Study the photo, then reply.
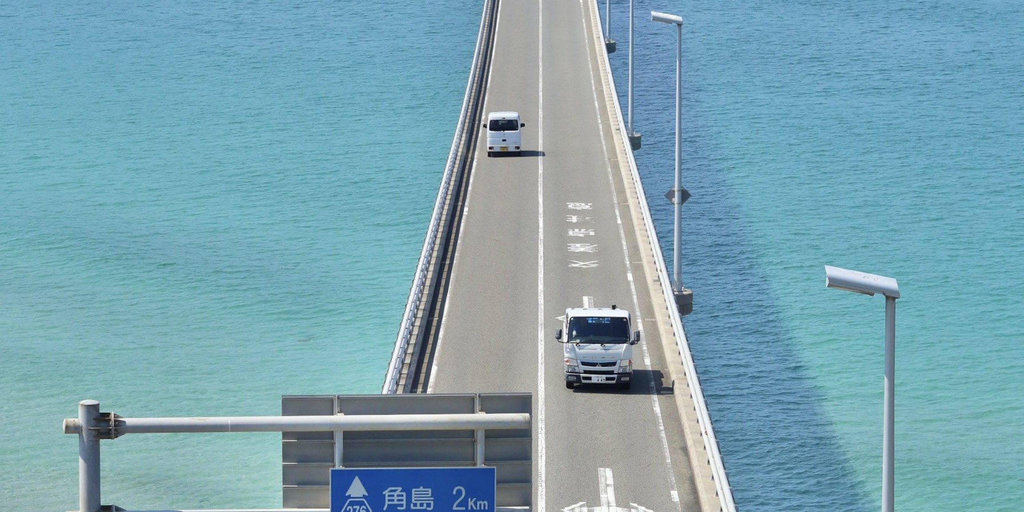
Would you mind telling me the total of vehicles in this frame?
two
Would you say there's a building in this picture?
No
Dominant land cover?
water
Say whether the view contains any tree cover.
No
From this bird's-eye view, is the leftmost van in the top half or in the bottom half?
top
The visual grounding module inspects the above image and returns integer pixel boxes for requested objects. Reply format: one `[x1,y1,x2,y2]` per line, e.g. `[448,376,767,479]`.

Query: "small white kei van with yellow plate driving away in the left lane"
[483,111,525,157]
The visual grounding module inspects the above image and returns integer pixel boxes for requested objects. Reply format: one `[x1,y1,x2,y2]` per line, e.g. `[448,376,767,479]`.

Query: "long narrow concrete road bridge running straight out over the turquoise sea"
[387,0,733,512]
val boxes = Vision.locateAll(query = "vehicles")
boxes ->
[483,111,525,157]
[555,305,640,389]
